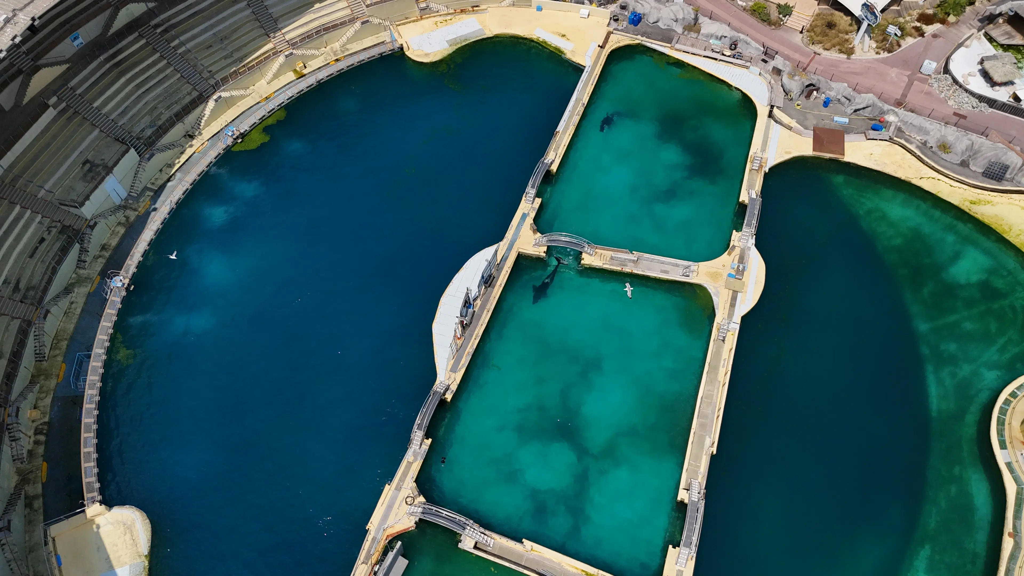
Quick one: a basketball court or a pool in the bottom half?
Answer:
pool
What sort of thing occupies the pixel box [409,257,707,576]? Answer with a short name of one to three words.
swimming pool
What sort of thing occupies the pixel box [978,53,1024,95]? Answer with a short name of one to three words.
shed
